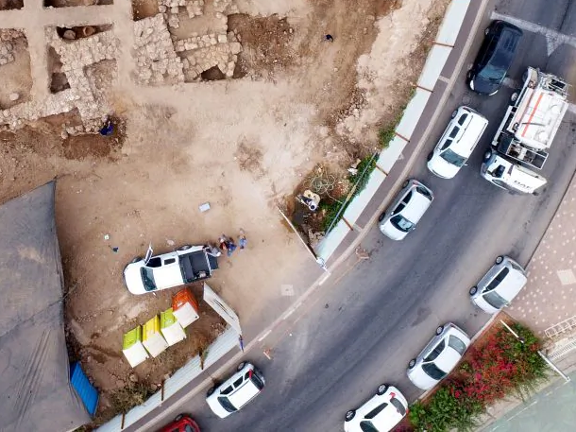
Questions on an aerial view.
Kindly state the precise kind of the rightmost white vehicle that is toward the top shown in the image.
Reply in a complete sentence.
I'd identify the rightmost white vehicle that is toward the top as a truck.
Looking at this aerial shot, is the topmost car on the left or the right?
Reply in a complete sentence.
The topmost car sits on the right side.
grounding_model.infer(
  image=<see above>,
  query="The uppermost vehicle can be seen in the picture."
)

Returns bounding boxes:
[464,16,526,102]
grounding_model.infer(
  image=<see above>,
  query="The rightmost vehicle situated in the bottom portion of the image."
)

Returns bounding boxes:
[465,249,531,325]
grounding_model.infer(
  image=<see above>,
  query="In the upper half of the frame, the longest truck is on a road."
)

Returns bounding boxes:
[469,58,573,212]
